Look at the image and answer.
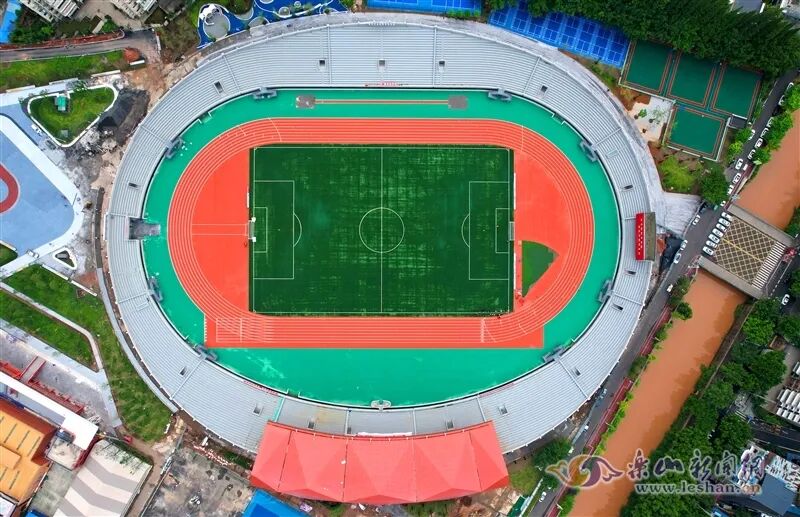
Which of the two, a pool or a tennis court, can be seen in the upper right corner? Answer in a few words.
tennis court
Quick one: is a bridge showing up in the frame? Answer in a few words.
Yes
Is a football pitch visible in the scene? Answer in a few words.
Yes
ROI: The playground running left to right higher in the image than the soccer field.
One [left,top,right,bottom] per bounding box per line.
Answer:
[197,0,349,49]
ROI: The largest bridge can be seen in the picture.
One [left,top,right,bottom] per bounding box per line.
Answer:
[697,203,795,299]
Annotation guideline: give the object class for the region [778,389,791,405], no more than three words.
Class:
vehicle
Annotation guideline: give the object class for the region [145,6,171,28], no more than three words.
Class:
shed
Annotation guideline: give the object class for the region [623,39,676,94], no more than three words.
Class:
tennis court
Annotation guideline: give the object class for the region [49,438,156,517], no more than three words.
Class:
building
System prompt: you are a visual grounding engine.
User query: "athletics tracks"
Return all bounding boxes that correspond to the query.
[167,118,594,349]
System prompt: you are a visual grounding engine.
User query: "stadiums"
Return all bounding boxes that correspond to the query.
[103,19,659,503]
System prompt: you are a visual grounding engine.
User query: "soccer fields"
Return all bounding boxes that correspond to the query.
[249,143,514,317]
